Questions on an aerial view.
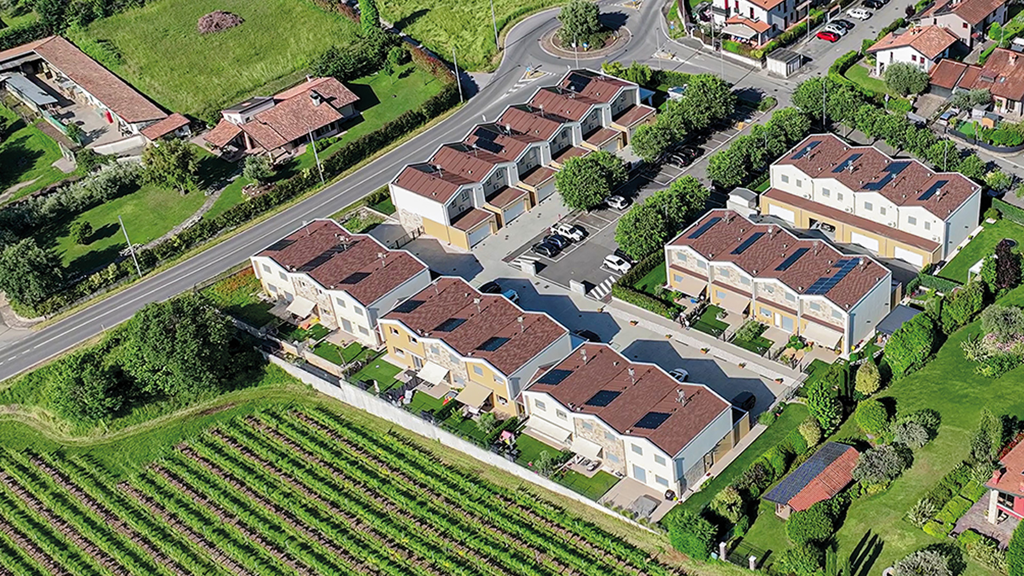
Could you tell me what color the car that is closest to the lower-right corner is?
black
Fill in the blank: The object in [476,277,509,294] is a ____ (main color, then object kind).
black car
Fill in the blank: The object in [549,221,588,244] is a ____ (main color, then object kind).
white car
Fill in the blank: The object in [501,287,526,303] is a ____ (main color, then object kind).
blue car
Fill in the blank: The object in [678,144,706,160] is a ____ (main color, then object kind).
black car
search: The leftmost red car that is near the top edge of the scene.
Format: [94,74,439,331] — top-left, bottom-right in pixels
[815,28,841,43]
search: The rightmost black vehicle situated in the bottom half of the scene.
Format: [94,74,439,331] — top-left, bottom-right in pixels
[729,387,762,416]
